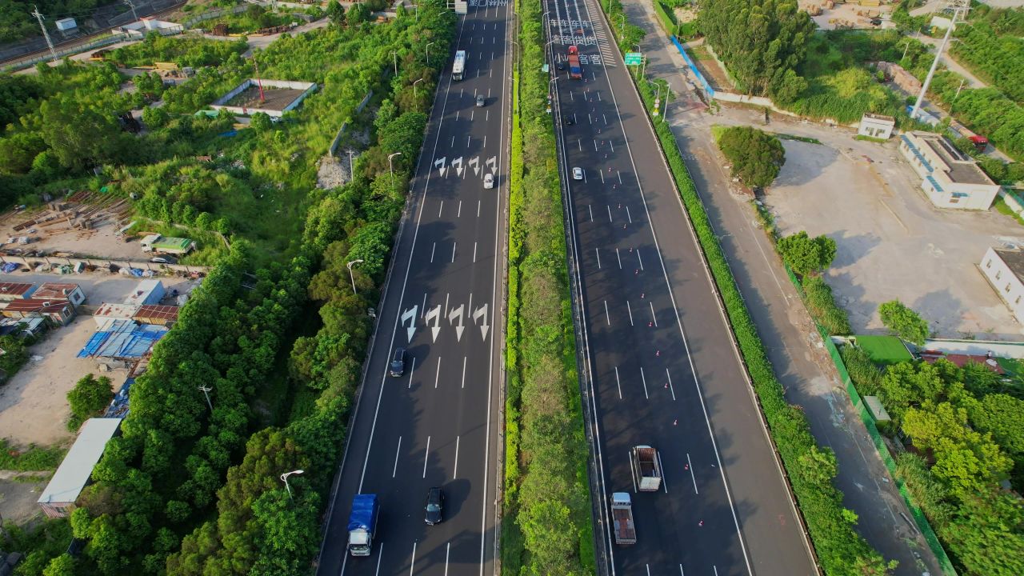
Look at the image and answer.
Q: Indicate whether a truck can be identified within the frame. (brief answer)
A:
Yes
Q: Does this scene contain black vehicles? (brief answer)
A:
Yes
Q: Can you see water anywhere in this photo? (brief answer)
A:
No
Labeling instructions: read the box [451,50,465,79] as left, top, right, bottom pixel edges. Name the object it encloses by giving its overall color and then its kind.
white vehicle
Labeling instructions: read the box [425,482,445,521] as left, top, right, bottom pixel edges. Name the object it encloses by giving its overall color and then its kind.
black car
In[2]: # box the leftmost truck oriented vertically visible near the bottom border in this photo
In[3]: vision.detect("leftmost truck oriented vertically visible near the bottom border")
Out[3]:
[350,489,382,552]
